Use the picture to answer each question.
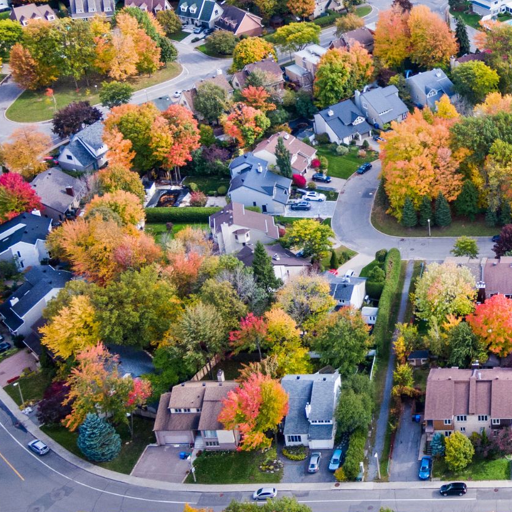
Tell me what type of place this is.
residential area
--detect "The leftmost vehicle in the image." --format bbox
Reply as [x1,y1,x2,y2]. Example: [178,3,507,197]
[26,435,48,453]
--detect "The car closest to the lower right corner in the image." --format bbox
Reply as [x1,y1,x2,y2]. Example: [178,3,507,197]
[439,478,466,493]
